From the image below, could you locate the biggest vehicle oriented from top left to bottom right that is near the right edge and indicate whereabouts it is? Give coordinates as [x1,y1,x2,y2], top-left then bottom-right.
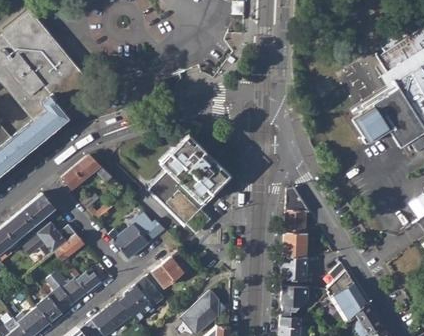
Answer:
[395,210,410,226]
